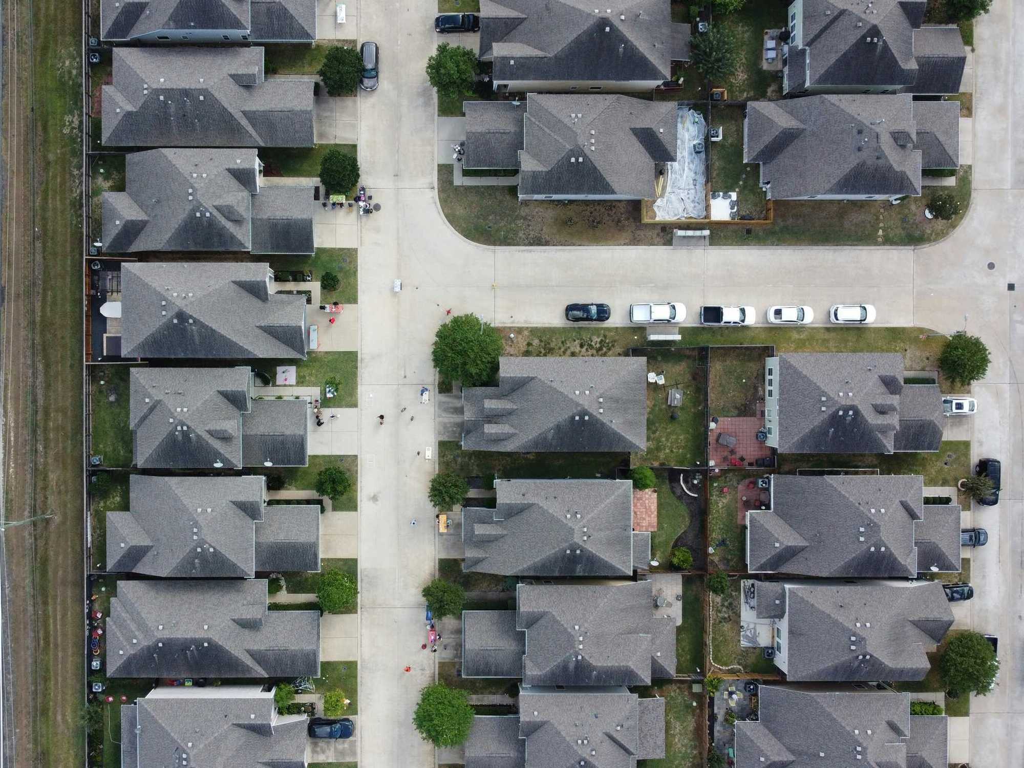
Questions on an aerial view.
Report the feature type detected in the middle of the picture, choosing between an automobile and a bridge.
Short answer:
automobile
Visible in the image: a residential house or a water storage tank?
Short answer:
residential house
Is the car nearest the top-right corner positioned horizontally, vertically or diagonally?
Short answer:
horizontally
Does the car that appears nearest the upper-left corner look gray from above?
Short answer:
Yes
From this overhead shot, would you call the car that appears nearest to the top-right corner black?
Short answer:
No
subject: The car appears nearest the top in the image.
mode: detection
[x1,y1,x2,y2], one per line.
[435,10,478,35]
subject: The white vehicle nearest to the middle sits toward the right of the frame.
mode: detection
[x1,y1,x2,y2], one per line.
[628,300,686,324]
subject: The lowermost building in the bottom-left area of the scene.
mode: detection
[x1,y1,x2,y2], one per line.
[121,684,310,768]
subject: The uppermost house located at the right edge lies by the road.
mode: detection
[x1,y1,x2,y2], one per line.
[783,0,973,99]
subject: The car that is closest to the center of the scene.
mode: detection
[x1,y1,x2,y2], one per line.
[565,300,610,323]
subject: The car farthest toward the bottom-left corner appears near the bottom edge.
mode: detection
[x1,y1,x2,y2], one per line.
[309,716,353,741]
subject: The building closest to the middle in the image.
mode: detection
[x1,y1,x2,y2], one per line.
[462,356,647,452]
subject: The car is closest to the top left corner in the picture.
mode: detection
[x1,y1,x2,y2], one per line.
[359,42,380,93]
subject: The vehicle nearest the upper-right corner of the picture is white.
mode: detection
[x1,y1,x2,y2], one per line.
[827,302,874,325]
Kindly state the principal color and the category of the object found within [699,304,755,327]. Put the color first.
white truck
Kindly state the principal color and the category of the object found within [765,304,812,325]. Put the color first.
white car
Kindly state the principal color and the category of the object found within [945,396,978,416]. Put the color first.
white car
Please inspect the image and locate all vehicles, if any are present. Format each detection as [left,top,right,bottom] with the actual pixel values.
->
[973,458,1001,504]
[435,10,478,35]
[941,581,976,603]
[961,527,988,549]
[945,396,978,416]
[699,304,755,327]
[565,300,610,323]
[765,304,812,325]
[827,302,874,325]
[628,300,686,324]
[309,716,353,741]
[359,42,380,93]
